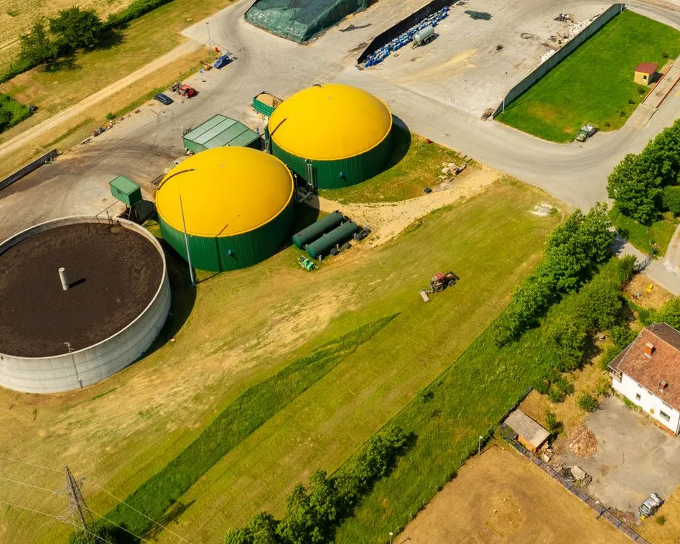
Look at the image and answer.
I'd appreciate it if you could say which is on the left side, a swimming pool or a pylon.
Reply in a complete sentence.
There is a pylon on the left side.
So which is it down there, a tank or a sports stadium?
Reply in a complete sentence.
Visible in the photo is a tank.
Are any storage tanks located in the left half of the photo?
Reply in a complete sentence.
Yes, in the left half of the photo there is a storage tank.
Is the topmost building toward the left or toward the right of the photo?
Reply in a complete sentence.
The topmost building is on the right side of the image.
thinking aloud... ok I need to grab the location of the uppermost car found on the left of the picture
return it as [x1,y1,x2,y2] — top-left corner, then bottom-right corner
[214,55,231,67]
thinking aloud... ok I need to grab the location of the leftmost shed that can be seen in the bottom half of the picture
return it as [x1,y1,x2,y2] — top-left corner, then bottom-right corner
[504,409,549,456]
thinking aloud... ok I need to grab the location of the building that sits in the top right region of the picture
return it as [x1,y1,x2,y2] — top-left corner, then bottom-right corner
[636,60,658,84]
